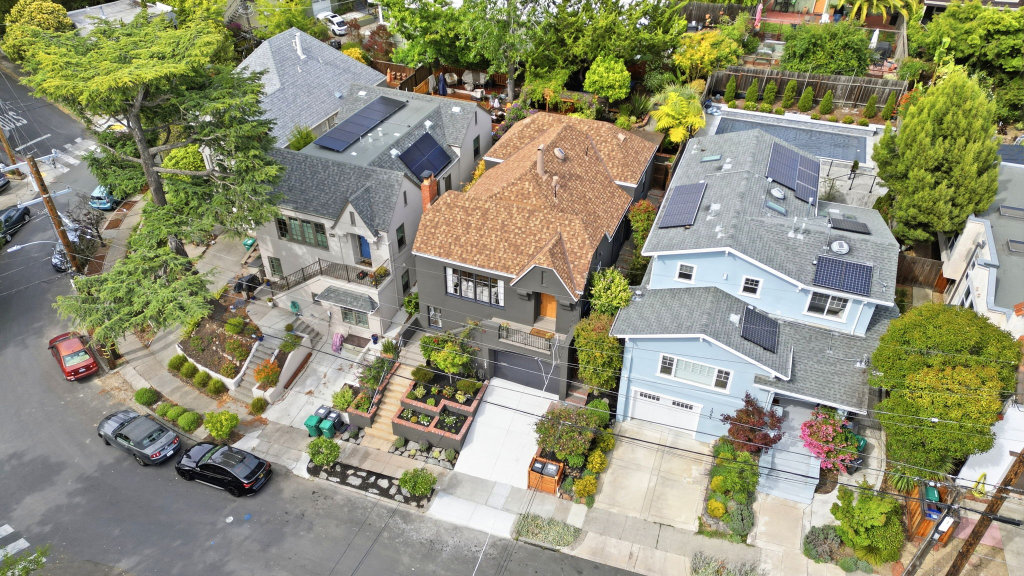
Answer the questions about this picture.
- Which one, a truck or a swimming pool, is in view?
swimming pool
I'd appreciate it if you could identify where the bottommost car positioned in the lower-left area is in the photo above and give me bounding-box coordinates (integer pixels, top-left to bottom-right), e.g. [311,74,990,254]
[172,441,271,498]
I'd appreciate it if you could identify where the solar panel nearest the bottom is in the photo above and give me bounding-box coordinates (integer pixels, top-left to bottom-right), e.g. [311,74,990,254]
[741,305,781,352]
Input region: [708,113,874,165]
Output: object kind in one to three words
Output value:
swimming pool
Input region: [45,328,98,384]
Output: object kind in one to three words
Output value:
car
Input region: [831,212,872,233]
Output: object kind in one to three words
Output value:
solar panel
